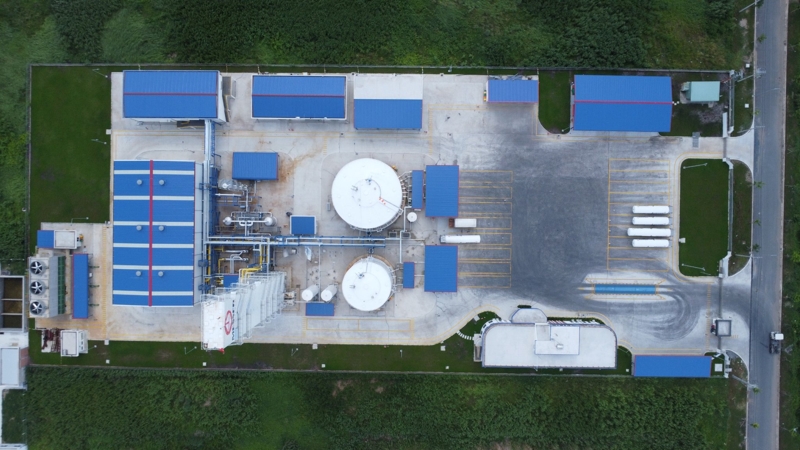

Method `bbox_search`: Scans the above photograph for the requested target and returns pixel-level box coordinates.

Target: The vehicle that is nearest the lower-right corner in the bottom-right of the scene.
[767,331,784,355]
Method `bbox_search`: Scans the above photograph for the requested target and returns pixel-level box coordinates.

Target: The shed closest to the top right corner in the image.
[680,81,719,107]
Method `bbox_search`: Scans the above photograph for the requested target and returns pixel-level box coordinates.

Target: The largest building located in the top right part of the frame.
[569,75,673,134]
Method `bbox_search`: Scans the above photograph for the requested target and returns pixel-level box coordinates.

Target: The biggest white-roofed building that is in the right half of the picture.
[473,307,616,371]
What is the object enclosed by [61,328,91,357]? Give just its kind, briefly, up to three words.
shed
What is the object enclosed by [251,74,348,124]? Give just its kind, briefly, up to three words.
building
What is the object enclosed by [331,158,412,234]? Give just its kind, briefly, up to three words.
storage tank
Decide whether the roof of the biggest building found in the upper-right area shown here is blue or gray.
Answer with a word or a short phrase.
blue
